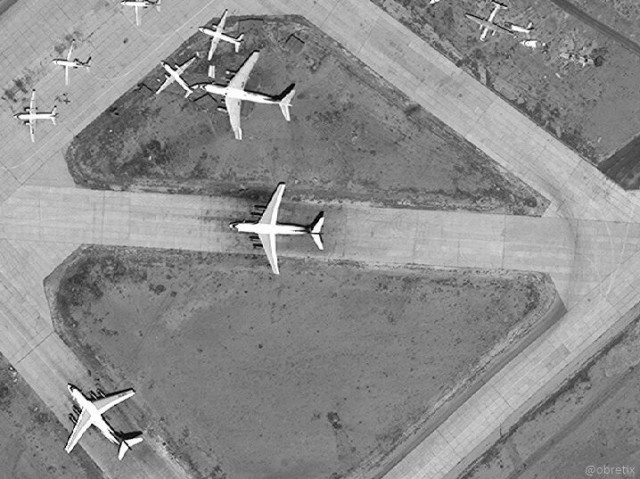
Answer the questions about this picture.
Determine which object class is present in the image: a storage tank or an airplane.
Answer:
airplane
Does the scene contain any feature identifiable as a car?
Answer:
No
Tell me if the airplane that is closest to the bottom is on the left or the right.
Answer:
left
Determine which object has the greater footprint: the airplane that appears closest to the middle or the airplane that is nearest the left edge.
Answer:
the airplane that appears closest to the middle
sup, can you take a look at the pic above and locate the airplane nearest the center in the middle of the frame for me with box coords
[230,184,324,276]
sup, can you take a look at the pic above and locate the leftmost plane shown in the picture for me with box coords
[15,90,58,142]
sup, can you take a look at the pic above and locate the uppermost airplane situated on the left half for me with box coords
[121,0,159,26]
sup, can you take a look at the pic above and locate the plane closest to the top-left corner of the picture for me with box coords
[53,42,90,86]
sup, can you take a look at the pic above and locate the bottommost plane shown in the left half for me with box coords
[68,384,143,463]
